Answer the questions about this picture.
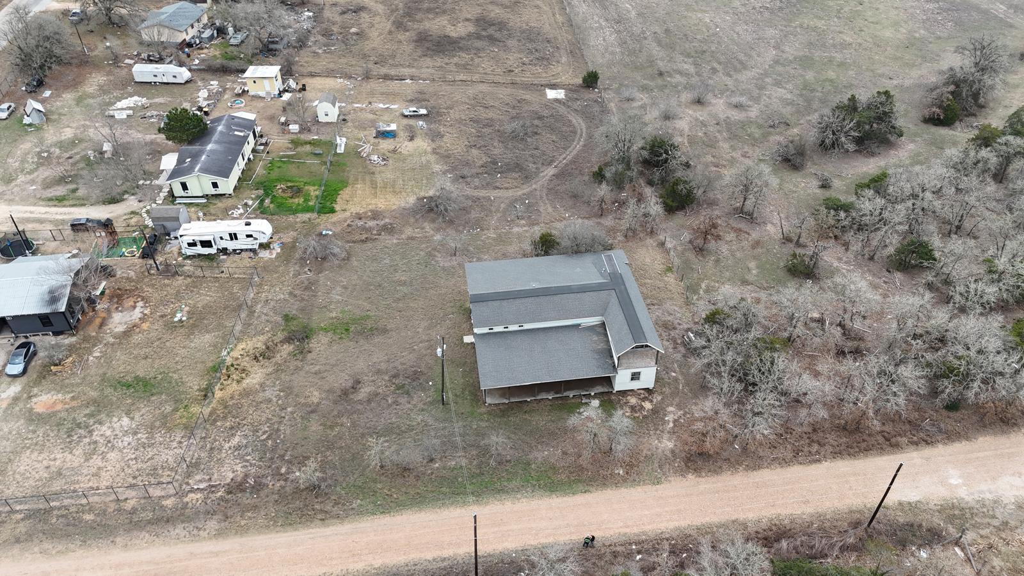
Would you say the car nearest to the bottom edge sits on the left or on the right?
left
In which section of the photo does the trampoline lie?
left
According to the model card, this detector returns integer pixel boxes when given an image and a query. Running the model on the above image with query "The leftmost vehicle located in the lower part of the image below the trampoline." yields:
[1,338,36,376]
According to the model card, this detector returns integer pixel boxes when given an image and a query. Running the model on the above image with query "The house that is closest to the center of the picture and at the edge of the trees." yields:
[464,251,664,409]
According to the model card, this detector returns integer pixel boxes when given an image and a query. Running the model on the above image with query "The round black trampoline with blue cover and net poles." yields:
[0,222,38,260]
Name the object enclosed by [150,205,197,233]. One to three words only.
shed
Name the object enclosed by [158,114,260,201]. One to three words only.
house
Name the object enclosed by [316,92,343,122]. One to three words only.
shed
